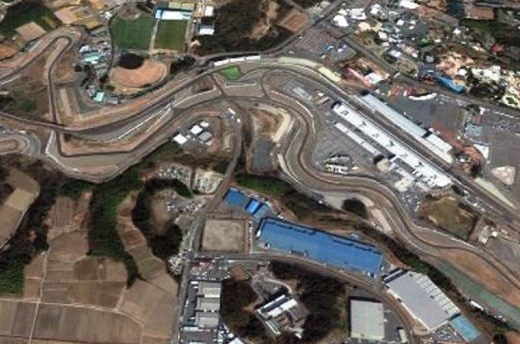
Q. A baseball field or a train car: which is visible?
baseball field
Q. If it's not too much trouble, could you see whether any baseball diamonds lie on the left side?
Yes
